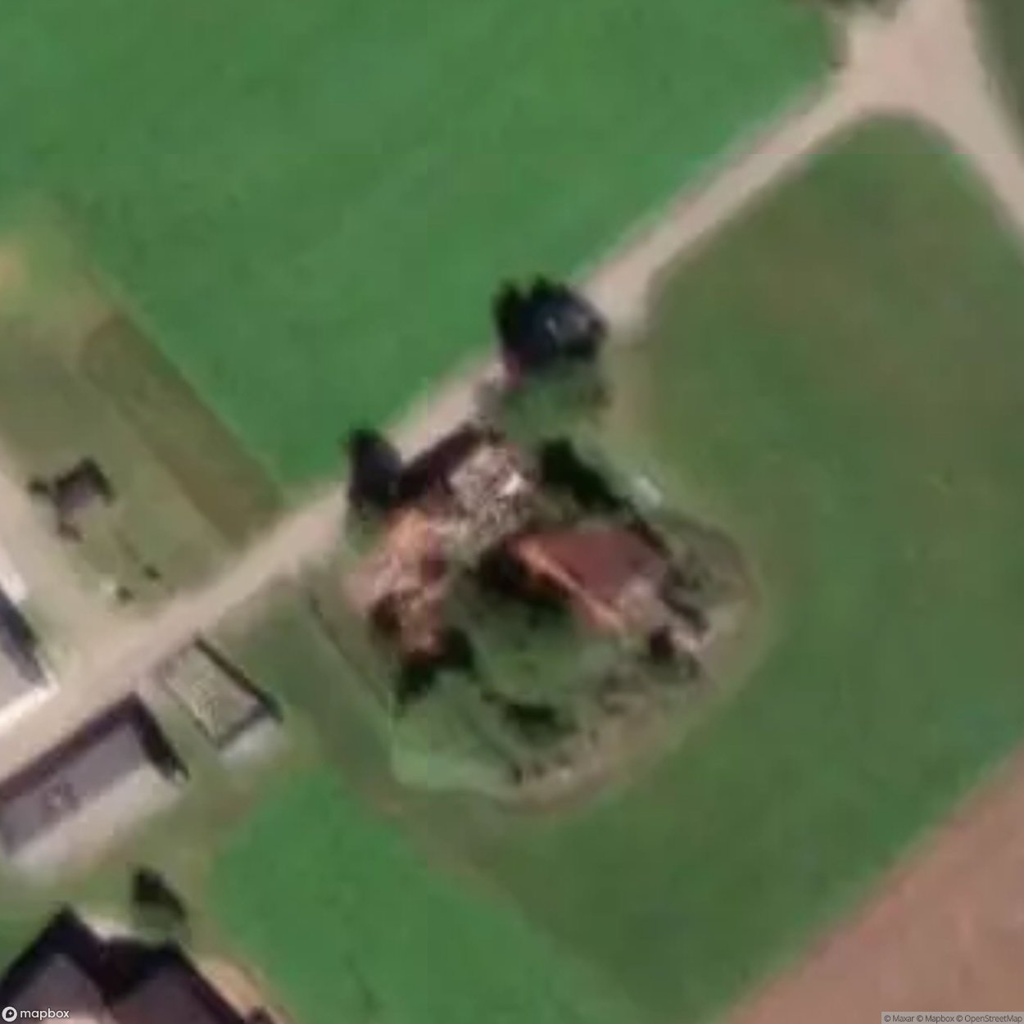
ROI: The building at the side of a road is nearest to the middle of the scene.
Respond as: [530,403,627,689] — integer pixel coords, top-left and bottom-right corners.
[420,449,530,554]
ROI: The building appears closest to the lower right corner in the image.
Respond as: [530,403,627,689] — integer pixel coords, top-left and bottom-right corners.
[516,524,675,631]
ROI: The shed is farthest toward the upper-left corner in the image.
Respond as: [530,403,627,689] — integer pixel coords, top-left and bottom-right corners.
[53,474,101,522]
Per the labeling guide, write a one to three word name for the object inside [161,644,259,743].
shed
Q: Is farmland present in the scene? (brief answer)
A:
Yes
